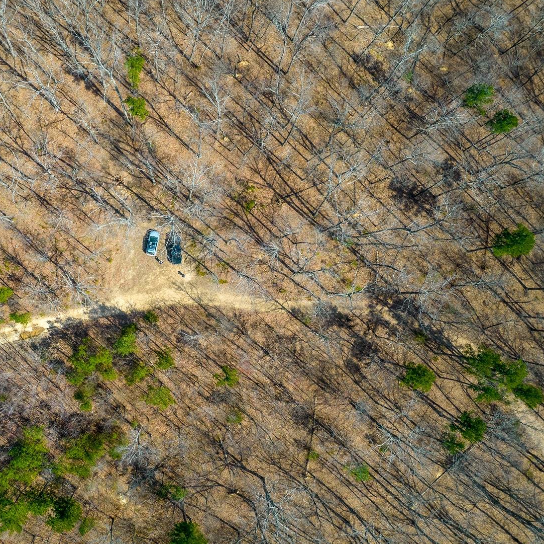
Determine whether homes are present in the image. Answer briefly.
No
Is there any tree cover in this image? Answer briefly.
Yes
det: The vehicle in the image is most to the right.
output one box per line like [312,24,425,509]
[169,232,184,265]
